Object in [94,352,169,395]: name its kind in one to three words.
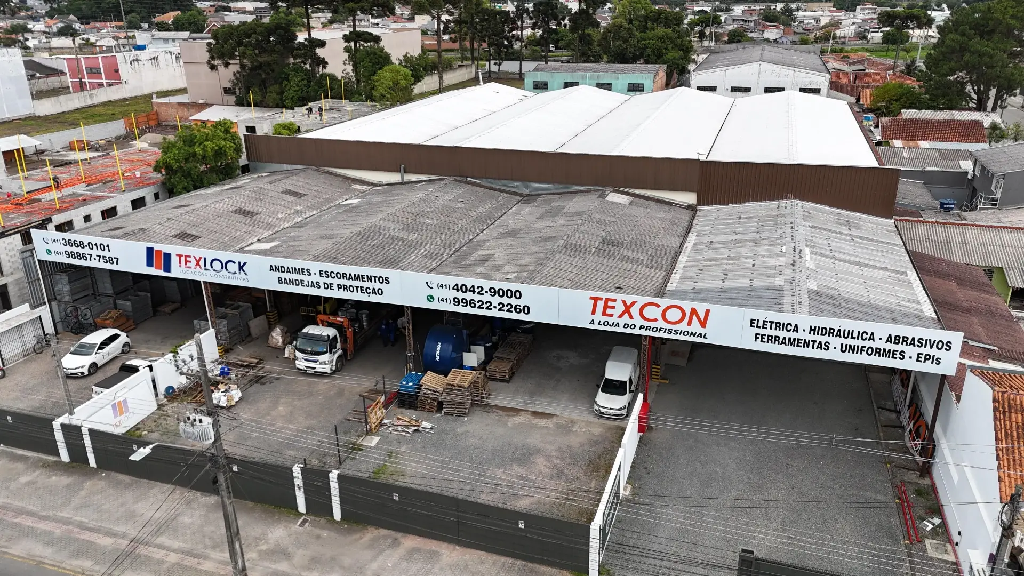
truck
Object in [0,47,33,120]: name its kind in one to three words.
building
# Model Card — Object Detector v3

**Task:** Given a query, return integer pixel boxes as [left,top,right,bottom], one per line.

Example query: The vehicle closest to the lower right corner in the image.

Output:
[591,348,637,416]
